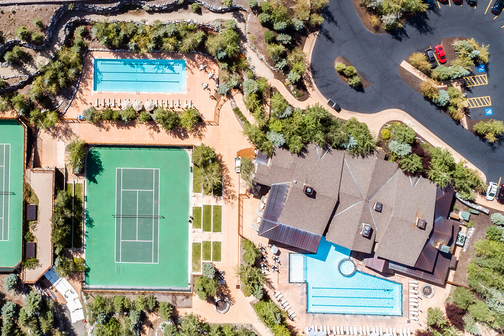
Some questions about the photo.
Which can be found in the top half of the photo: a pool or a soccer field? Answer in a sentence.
Looking in the top half of the photo, you will find a pool.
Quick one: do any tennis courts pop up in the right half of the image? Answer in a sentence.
No, in the right half of the image there is no tennis court.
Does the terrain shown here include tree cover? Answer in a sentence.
Yes, there is tree cover in the image.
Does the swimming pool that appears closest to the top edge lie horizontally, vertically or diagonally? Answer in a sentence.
I'd say the swimming pool that appears closest to the top edge is aligned horizontally in the picture.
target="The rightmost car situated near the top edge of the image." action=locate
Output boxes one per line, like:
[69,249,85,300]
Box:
[491,0,504,14]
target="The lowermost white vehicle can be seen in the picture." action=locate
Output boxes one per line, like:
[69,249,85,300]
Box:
[485,181,498,201]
